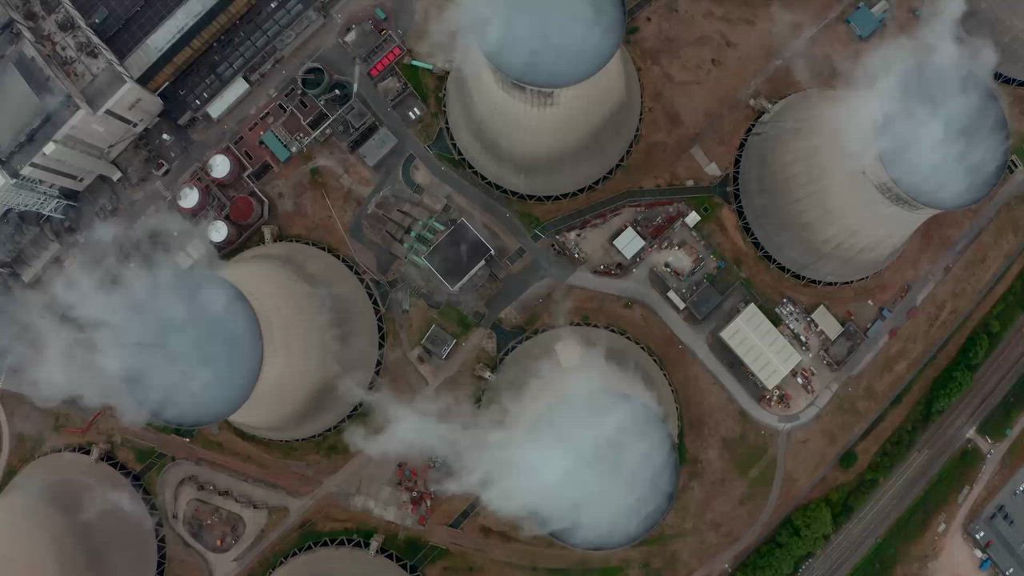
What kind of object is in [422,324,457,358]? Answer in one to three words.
building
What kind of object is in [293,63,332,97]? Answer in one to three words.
storage tank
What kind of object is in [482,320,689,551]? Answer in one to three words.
cooling tower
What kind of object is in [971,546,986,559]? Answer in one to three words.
vehicle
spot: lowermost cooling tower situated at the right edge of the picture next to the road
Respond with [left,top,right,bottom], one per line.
[724,75,1011,294]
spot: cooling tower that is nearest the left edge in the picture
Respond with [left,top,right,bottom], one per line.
[0,444,170,576]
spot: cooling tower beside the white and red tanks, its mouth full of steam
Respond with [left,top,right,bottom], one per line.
[104,237,386,439]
